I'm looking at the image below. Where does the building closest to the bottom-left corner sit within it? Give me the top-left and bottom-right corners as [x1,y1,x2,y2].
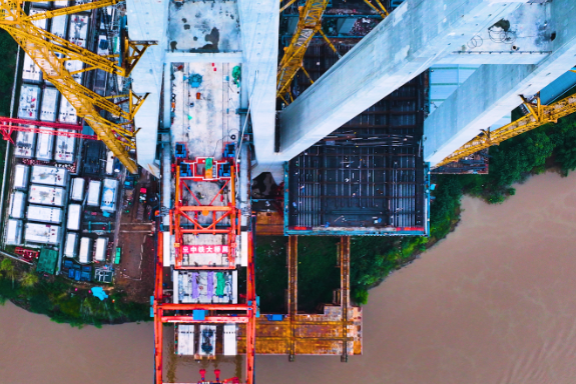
[38,247,62,273]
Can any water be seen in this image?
Yes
